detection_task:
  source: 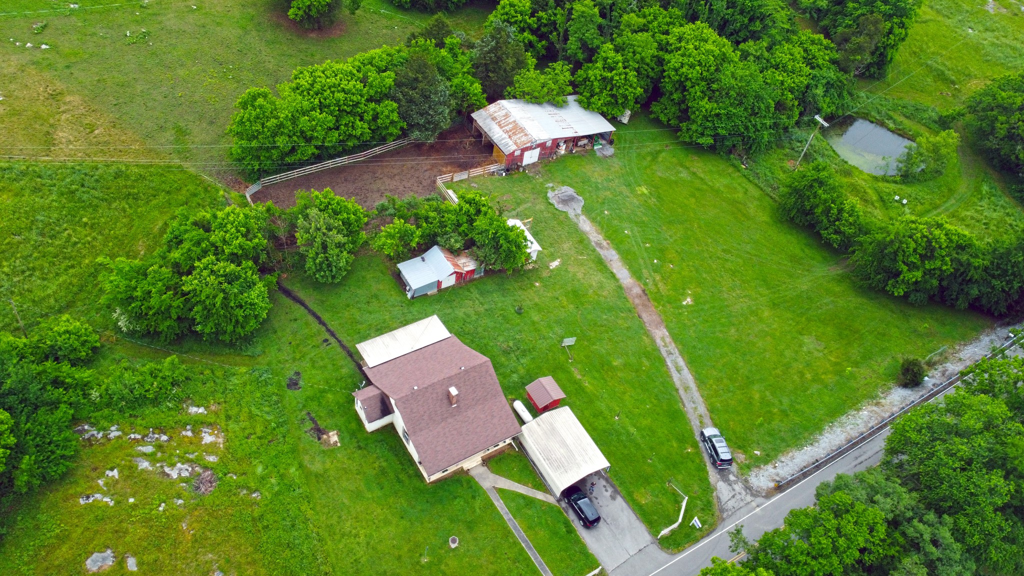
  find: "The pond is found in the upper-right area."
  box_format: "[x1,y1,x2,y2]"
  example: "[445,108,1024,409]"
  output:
[822,119,923,177]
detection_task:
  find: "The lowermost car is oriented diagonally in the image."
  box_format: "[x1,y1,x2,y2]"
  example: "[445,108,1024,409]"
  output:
[562,483,604,532]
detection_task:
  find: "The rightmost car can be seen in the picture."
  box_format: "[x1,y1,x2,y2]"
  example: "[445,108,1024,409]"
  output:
[699,426,733,470]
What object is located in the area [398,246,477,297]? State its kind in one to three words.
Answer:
shed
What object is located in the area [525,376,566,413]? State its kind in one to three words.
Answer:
shed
